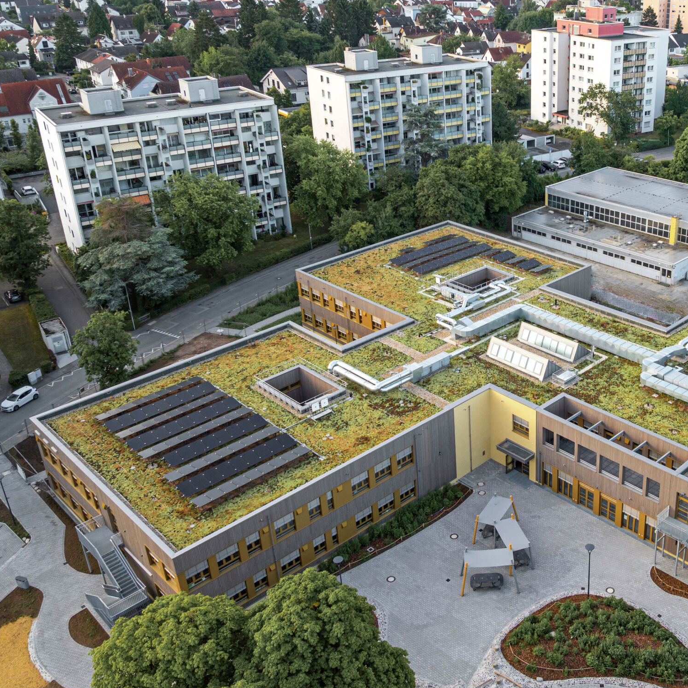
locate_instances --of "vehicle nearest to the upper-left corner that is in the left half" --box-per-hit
[2,285,21,302]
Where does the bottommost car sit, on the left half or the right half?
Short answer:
left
